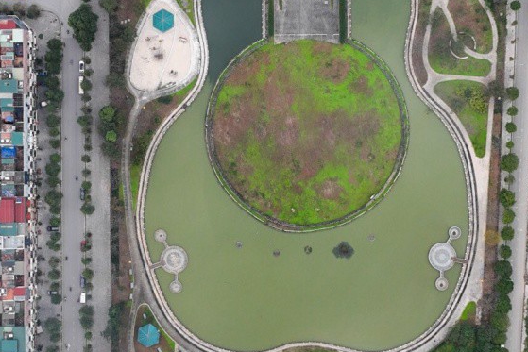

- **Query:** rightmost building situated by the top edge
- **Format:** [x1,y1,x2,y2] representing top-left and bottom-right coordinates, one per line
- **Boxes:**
[153,10,172,33]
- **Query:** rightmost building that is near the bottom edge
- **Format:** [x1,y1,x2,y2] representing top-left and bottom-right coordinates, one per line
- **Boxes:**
[139,325,158,346]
